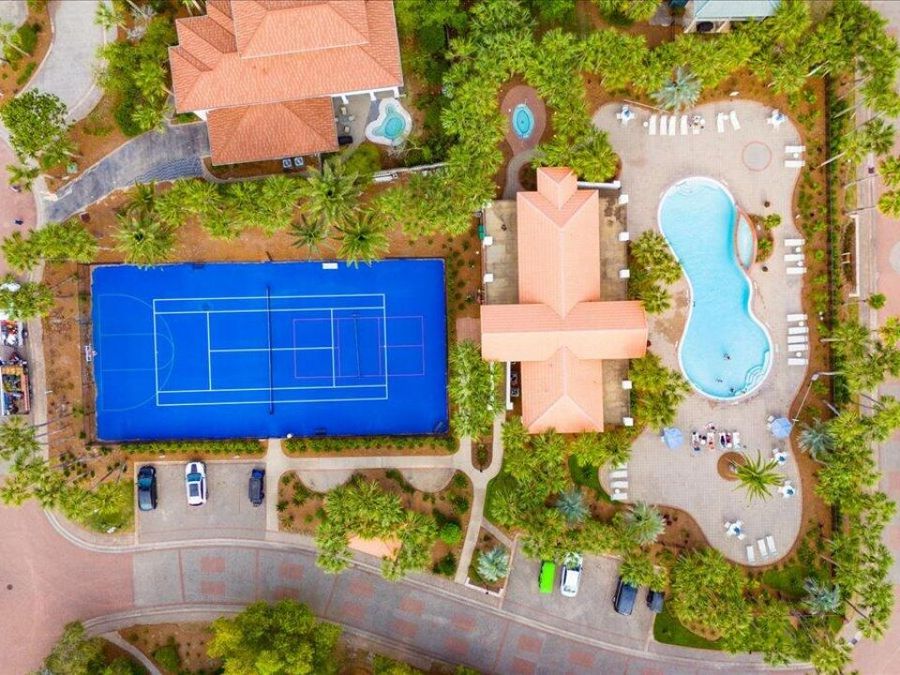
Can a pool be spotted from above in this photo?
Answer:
Yes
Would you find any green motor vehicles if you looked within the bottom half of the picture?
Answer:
Yes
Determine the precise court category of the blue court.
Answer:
tennis court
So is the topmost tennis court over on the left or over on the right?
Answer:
left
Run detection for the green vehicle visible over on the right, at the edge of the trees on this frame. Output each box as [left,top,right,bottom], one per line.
[537,552,560,594]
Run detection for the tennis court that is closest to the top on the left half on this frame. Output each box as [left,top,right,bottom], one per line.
[91,258,448,442]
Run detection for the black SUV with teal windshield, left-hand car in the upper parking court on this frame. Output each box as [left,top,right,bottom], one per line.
[134,463,160,512]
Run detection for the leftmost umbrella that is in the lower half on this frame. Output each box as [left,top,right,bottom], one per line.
[663,426,687,451]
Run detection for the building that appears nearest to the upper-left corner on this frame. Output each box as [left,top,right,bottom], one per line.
[169,0,404,165]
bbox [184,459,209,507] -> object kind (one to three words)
car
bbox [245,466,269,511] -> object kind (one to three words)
car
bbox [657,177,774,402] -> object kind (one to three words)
swimming pool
